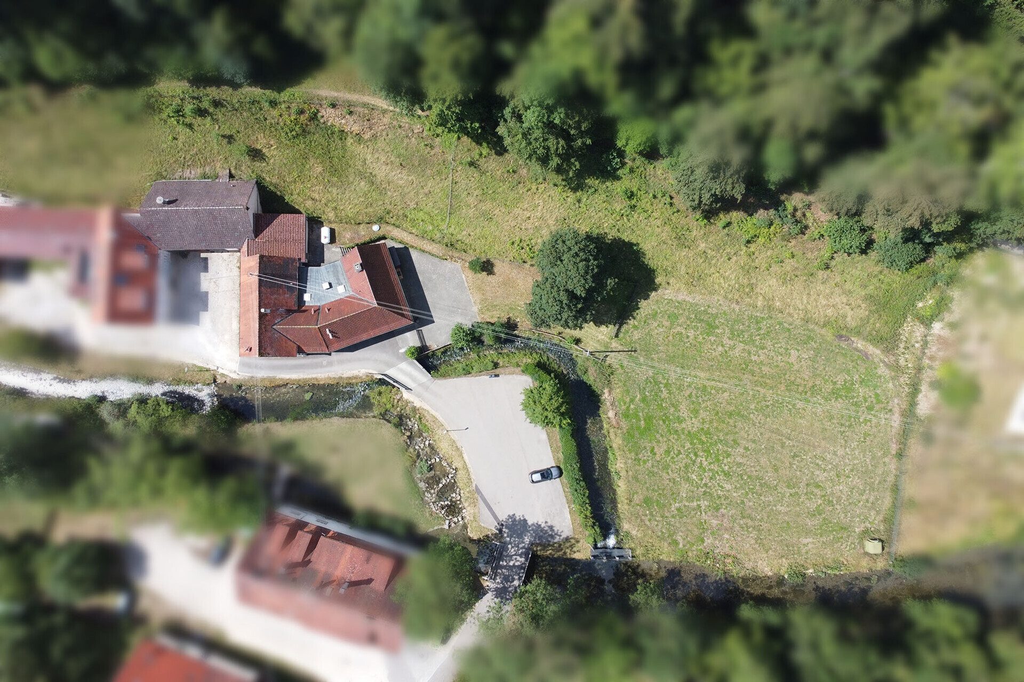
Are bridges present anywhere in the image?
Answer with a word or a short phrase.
Yes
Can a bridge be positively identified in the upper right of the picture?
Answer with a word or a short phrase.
No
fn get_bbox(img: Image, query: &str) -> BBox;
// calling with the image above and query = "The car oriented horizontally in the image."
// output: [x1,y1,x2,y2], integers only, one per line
[528,467,561,484]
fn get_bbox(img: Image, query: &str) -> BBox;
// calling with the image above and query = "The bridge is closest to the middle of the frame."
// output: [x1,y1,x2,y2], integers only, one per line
[381,359,435,392]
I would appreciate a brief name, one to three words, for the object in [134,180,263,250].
barn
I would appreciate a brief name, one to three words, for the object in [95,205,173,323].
house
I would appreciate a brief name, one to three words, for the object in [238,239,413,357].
house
